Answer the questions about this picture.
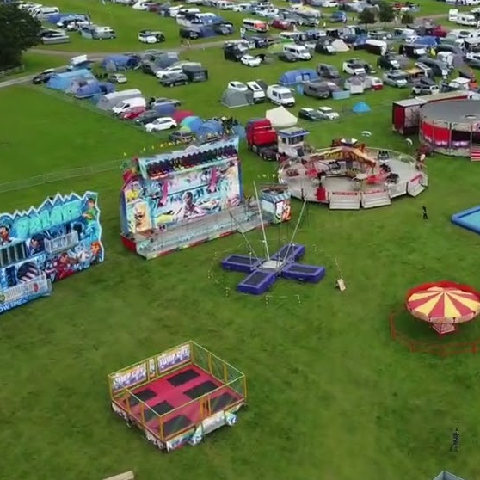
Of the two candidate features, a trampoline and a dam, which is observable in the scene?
trampoline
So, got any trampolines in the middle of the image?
Yes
